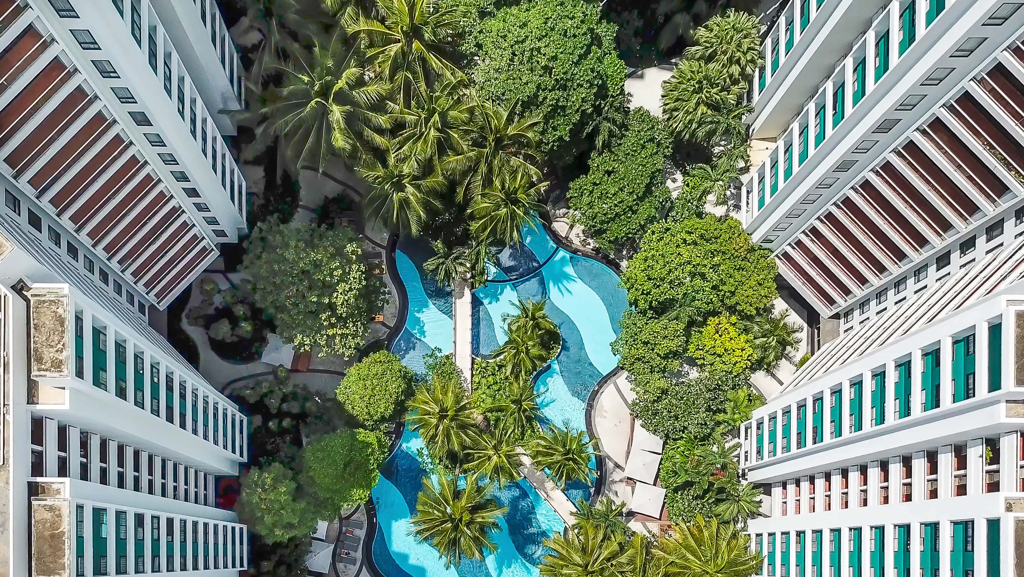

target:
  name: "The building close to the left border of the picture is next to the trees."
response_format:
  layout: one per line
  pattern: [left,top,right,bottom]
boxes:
[0,0,247,577]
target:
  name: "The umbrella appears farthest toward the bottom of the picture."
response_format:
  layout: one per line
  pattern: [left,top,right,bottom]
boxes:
[304,540,334,574]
